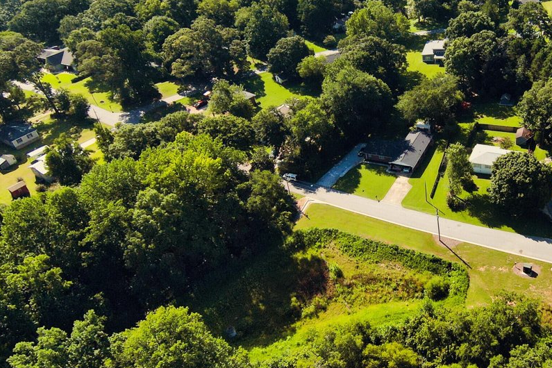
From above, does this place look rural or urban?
rural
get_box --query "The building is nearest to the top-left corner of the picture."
[42,51,82,72]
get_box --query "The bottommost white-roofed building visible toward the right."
[468,145,516,177]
